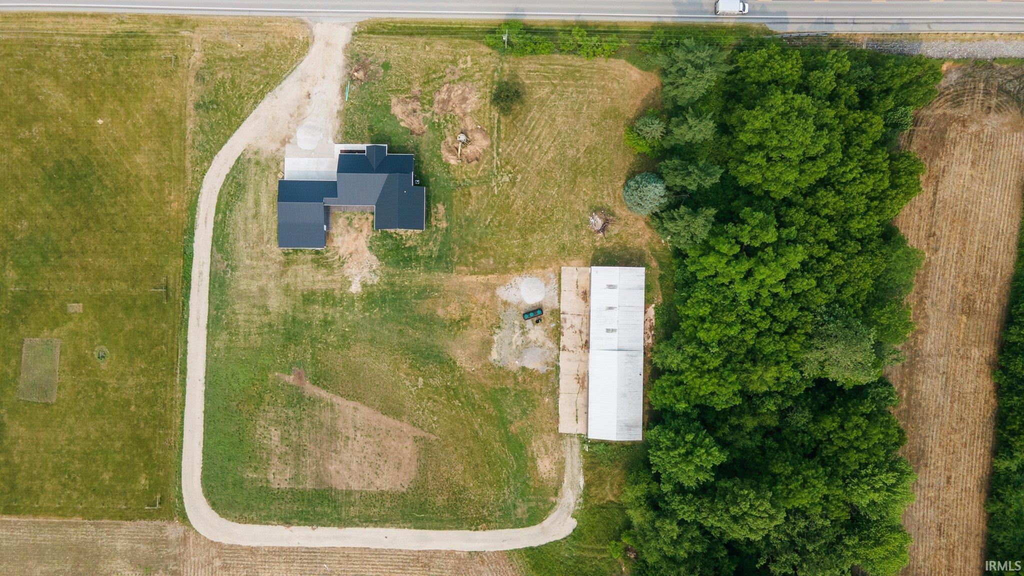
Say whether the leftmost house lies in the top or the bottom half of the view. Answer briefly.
top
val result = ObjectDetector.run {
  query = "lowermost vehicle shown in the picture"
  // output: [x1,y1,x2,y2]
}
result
[455,132,474,164]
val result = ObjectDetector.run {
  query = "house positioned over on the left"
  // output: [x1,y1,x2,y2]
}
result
[277,144,426,248]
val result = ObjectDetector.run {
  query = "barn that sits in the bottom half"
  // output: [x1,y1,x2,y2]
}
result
[586,266,645,441]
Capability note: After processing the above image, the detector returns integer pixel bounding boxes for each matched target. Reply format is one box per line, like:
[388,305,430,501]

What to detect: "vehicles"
[455,132,474,164]
[715,0,748,15]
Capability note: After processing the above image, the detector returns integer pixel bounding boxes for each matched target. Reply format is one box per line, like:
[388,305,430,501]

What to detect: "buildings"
[277,144,426,248]
[586,266,645,441]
